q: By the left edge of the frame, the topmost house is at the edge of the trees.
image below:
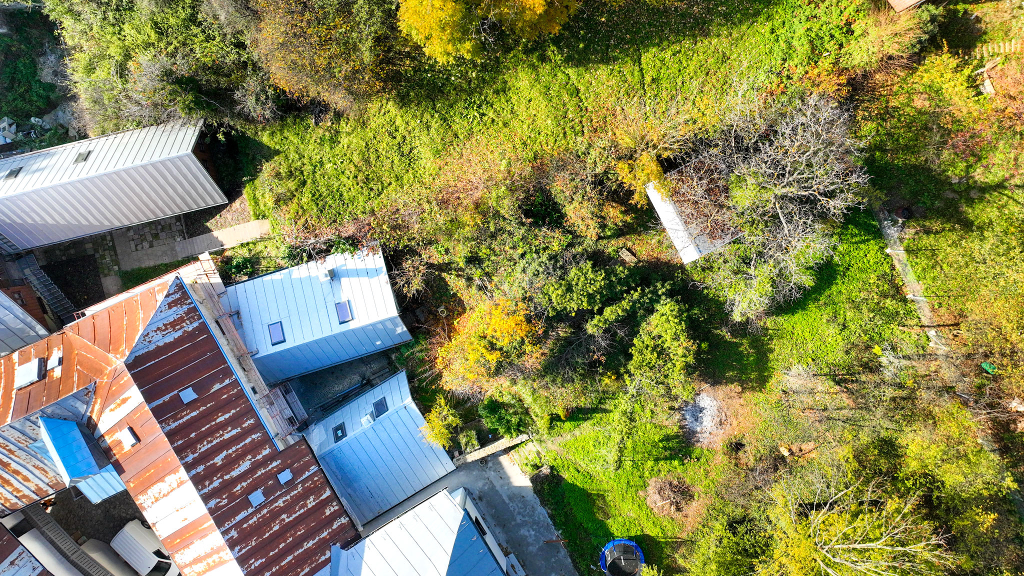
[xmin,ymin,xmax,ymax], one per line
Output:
[0,118,237,252]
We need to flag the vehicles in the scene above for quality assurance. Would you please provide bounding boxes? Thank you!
[87,533,139,576]
[118,523,180,576]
